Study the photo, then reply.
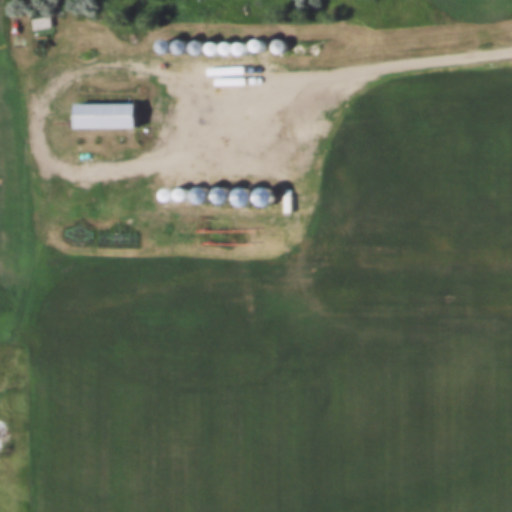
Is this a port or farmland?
farmland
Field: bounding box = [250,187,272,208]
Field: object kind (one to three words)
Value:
silo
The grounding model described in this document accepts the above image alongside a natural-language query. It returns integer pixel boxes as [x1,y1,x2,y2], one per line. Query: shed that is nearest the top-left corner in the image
[32,18,54,37]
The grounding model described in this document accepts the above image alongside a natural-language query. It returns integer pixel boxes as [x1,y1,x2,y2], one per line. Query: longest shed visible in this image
[72,104,134,130]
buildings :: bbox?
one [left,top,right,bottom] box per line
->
[72,104,134,130]
[32,18,54,37]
